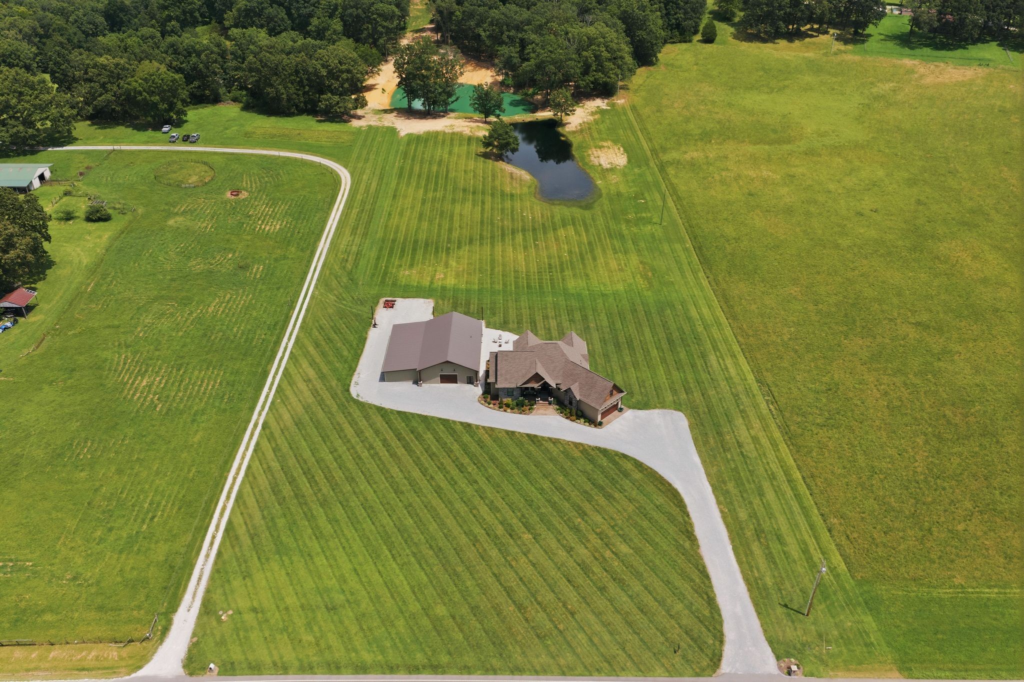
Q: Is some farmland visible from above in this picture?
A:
Yes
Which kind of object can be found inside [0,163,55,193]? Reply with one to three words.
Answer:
barn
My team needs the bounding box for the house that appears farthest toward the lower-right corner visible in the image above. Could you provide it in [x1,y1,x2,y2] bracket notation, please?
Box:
[488,330,627,421]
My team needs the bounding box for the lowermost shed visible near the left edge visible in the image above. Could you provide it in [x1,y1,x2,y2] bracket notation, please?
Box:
[0,289,40,319]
